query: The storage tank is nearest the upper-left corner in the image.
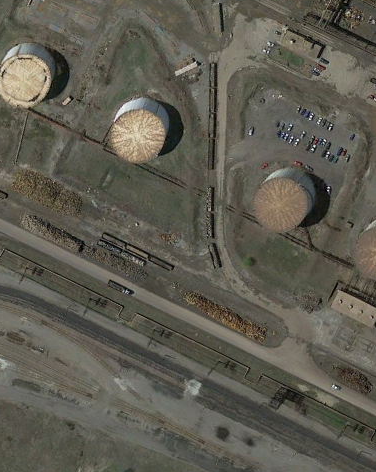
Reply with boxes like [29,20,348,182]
[0,45,59,108]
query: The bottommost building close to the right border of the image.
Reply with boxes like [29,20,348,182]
[332,287,376,327]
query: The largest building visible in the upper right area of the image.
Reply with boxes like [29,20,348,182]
[277,28,324,59]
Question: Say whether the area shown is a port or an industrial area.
industrial area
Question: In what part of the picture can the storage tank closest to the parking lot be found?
right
